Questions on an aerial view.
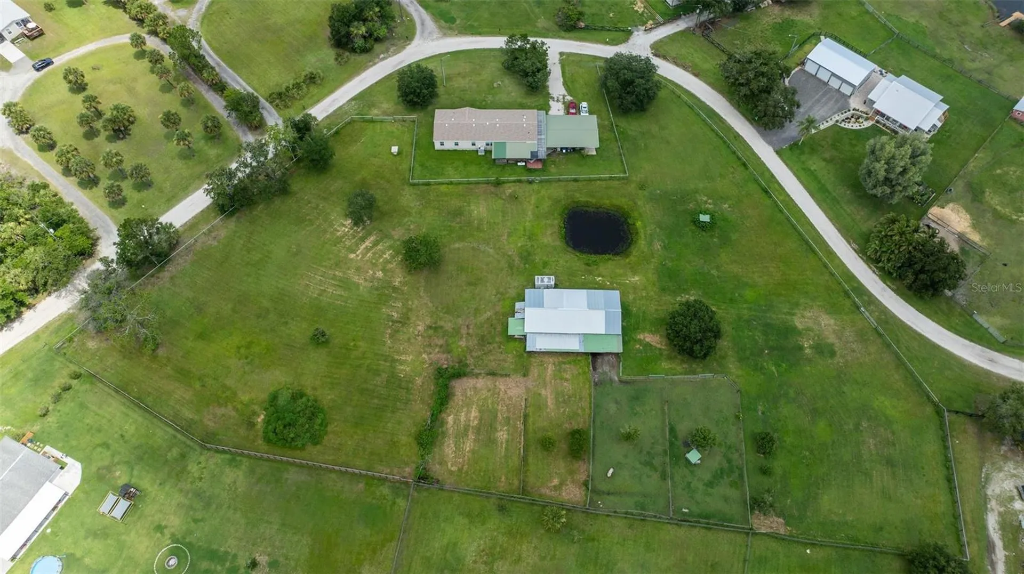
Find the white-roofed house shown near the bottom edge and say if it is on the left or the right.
left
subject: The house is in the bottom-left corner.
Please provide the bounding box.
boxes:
[0,435,77,567]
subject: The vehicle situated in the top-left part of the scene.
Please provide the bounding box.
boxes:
[31,58,55,71]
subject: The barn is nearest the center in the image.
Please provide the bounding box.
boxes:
[509,289,622,357]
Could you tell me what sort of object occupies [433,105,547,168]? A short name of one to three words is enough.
house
